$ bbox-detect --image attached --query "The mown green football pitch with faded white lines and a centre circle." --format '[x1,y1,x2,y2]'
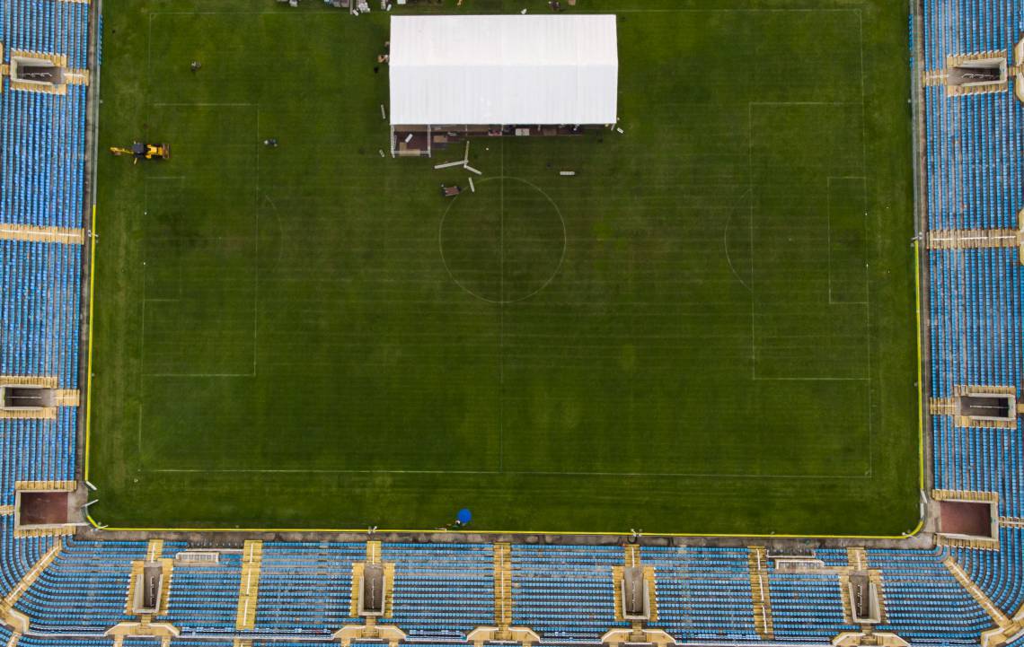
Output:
[88,0,919,536]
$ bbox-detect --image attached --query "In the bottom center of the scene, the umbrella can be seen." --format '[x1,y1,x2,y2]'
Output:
[458,509,472,524]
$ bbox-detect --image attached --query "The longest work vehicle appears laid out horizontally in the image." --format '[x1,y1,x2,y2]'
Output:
[109,141,172,162]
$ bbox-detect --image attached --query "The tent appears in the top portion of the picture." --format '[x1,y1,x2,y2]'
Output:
[388,14,618,136]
